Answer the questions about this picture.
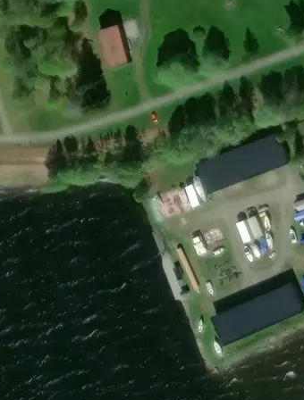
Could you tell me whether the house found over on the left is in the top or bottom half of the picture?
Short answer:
top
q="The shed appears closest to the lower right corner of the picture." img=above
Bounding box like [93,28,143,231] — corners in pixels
[211,282,304,347]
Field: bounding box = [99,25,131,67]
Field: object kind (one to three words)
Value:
house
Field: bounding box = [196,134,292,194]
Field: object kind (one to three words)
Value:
shed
